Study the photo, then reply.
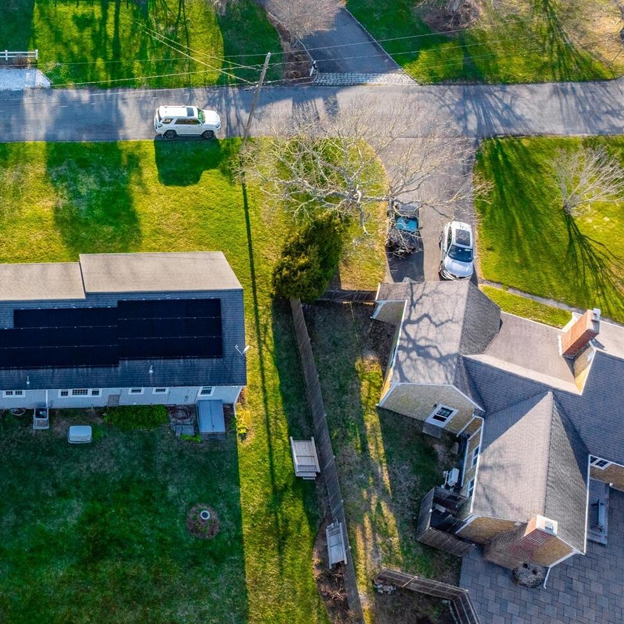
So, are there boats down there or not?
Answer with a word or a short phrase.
No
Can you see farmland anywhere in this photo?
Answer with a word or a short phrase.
No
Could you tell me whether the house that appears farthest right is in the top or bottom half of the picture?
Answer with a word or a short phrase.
bottom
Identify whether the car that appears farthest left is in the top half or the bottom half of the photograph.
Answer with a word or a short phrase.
top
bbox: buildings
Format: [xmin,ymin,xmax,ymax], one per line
[0,251,249,415]
[371,278,624,580]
